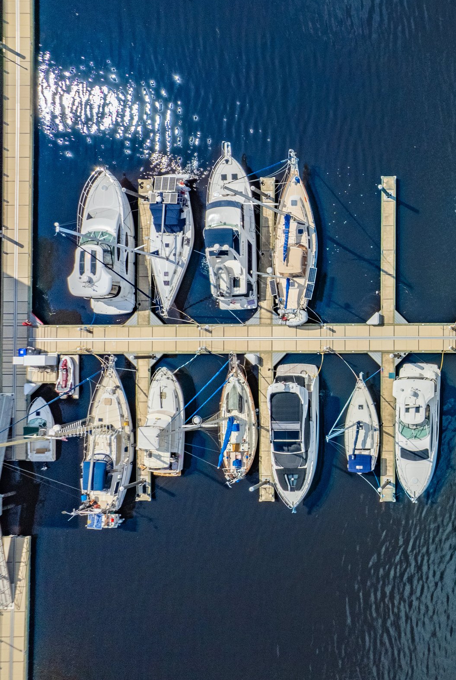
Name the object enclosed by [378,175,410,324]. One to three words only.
pier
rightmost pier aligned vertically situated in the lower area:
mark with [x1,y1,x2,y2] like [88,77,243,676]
[367,352,410,503]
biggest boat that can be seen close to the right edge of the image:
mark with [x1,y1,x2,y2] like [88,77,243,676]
[393,364,441,503]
